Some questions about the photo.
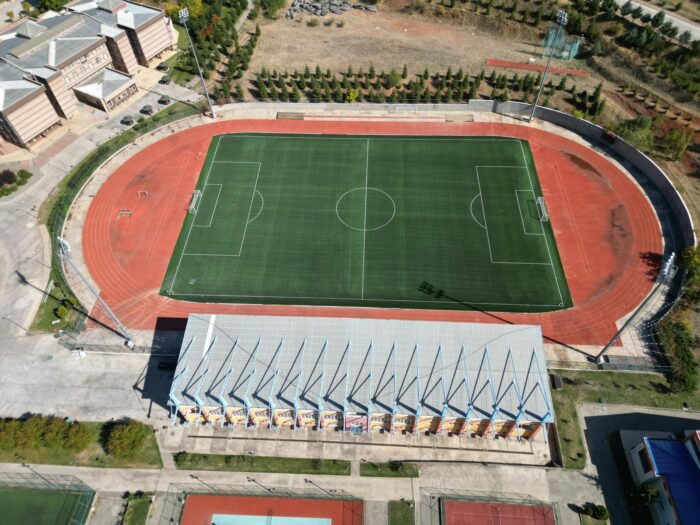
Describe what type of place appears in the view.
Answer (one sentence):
It's a sports ground.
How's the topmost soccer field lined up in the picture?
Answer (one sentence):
In this picture, the topmost soccer field lies horizontally.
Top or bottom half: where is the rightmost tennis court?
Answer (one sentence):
Seen from above, the rightmost tennis court lies in the bottom half of the view.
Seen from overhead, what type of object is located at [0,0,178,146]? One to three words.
building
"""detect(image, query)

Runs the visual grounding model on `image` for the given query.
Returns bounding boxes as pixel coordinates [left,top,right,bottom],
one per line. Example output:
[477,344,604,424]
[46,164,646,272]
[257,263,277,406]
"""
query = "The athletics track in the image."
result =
[83,119,661,345]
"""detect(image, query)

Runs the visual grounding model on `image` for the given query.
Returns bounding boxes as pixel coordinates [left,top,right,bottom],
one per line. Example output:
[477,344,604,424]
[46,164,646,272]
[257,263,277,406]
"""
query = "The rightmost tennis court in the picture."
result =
[440,500,555,525]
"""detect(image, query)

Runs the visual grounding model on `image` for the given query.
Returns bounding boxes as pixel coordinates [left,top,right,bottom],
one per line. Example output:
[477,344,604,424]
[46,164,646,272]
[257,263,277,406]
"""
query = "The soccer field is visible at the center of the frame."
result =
[161,132,573,312]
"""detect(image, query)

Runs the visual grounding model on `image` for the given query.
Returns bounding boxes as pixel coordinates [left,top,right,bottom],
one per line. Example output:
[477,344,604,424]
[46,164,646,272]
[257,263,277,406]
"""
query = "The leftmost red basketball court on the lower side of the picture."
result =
[180,494,364,525]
